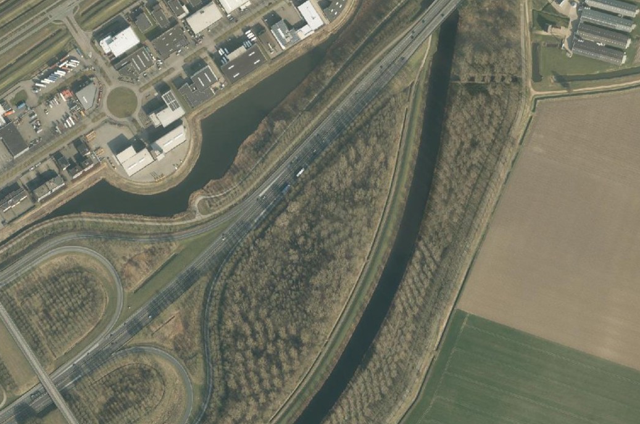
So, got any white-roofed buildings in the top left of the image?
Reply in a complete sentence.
Yes, a white-roofed building shows up in the top left of the image.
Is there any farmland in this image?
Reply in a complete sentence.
Yes, farmland shows up in the scene.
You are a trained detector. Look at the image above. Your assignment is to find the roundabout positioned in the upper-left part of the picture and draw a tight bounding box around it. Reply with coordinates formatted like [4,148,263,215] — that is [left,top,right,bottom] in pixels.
[101,81,142,123]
